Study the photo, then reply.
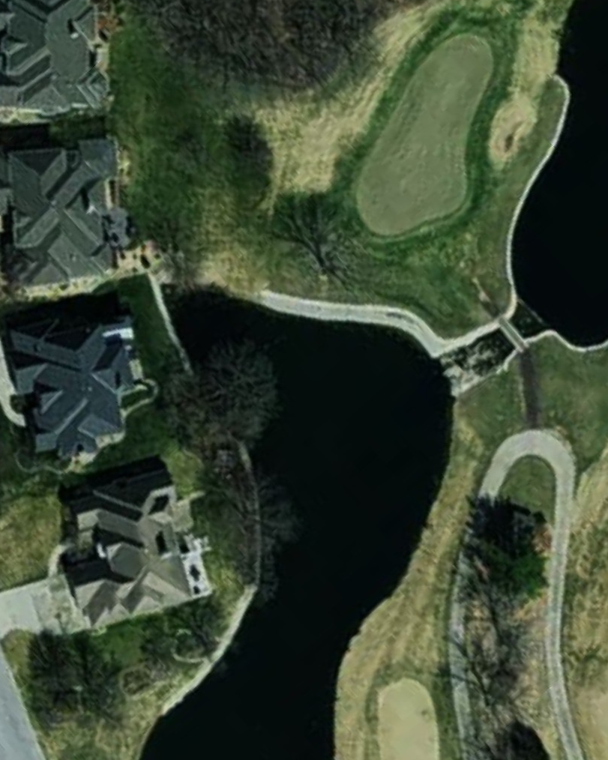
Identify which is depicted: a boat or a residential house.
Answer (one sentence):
Visible in the photo is a residential house.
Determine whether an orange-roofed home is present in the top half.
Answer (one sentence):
No, there's no orange-roofed home to be seen in the top half.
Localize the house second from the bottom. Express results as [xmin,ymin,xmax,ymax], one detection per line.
[1,311,137,461]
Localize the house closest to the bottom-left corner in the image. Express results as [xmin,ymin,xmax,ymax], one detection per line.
[62,466,198,625]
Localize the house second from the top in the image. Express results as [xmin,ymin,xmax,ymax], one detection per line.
[0,138,117,285]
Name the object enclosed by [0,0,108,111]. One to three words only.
house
